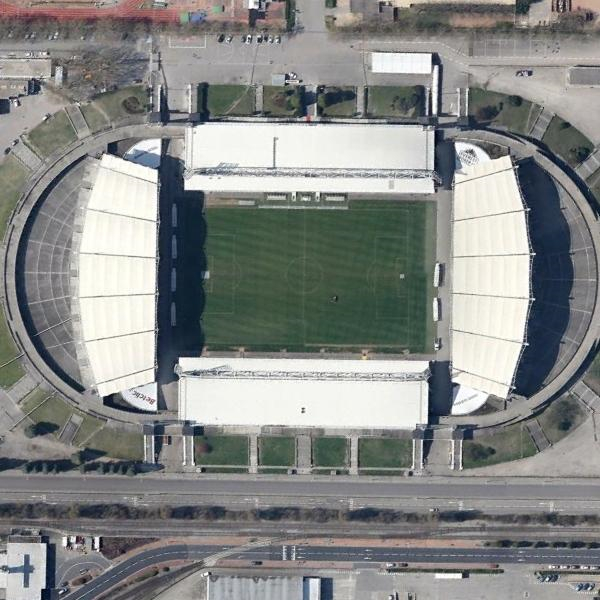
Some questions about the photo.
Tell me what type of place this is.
sports ground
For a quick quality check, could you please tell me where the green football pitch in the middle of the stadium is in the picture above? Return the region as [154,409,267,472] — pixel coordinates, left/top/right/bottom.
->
[182,193,437,357]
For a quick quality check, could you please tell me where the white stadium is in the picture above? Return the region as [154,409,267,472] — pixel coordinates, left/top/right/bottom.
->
[2,84,600,469]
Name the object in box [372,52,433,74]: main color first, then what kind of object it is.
white tent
